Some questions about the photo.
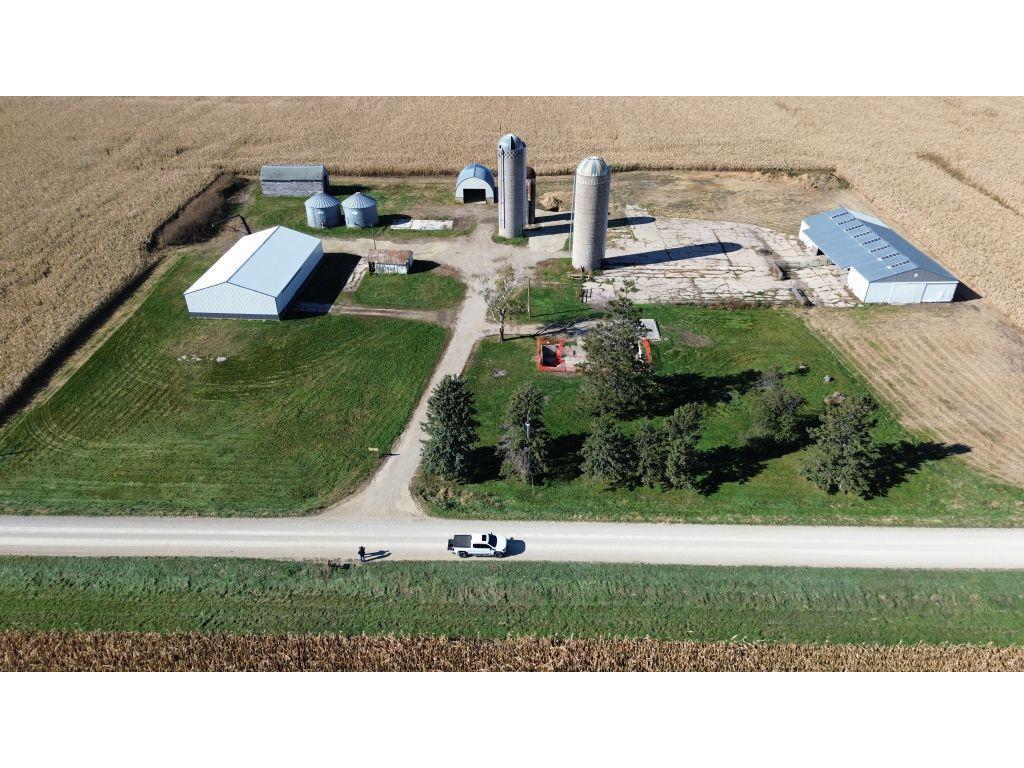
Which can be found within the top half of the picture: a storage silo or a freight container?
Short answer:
storage silo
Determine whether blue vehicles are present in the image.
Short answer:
No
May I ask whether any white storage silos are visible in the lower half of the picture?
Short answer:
No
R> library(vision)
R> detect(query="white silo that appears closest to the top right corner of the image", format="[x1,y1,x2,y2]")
[569,157,612,272]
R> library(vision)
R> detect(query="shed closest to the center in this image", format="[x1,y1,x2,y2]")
[368,247,412,274]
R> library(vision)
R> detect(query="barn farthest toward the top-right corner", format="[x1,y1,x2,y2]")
[801,205,962,302]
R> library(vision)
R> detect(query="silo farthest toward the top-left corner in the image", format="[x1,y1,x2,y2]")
[303,193,341,229]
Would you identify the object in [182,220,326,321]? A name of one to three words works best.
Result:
shed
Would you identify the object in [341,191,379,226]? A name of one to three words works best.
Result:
silo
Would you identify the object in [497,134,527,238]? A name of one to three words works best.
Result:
silo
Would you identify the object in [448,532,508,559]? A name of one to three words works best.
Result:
truck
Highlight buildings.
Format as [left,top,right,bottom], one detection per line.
[368,247,412,274]
[182,220,326,321]
[456,162,495,203]
[801,205,962,302]
[258,163,332,195]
